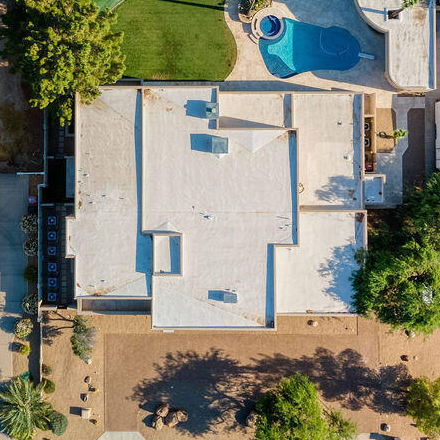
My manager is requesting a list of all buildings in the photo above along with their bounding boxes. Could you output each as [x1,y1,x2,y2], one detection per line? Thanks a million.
[65,86,385,334]
[351,0,436,91]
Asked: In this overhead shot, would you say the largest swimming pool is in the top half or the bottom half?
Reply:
top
